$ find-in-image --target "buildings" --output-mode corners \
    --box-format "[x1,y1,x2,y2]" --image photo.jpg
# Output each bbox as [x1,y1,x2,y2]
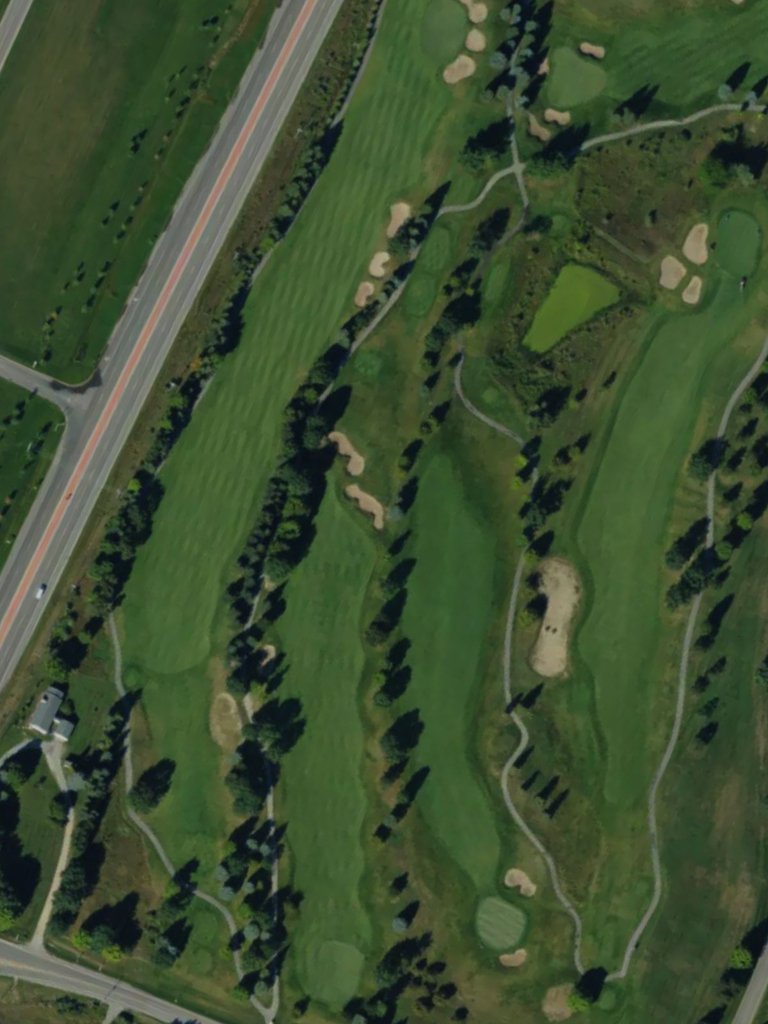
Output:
[31,687,66,734]
[55,717,74,739]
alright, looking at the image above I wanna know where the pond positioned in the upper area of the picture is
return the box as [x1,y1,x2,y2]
[523,261,619,354]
